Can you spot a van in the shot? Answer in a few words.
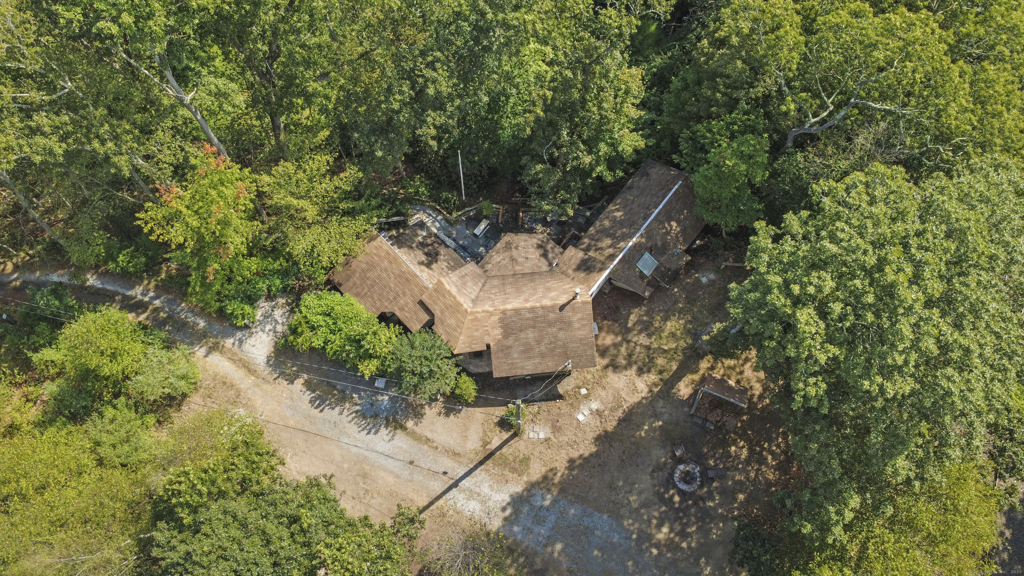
No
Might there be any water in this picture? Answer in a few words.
No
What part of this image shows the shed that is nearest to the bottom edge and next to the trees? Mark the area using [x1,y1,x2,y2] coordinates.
[687,372,749,436]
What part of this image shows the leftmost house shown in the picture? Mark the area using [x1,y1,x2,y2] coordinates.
[329,159,715,385]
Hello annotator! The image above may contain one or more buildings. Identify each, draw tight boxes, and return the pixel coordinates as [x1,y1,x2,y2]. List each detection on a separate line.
[329,159,715,385]
[687,372,749,436]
